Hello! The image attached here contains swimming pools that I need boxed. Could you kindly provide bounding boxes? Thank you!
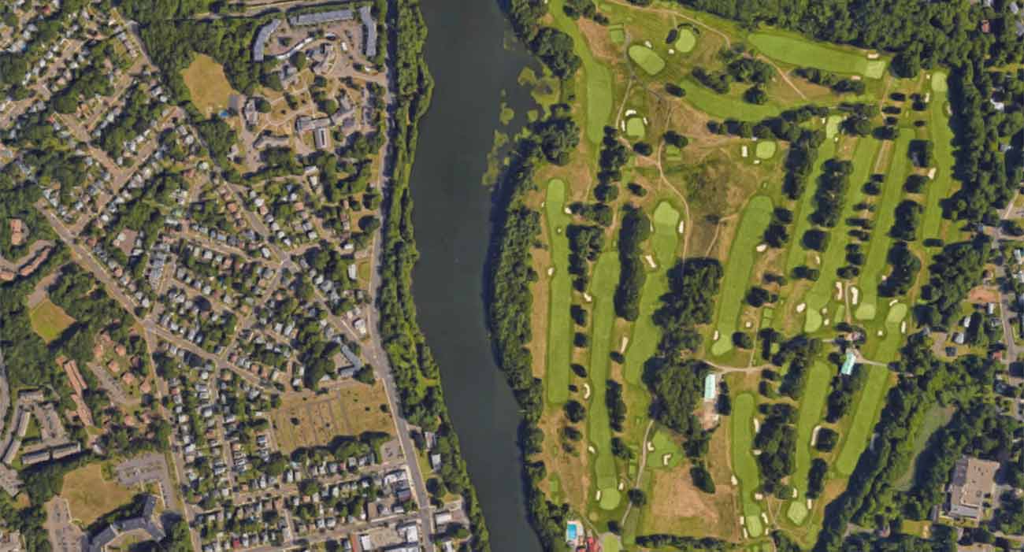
[566,521,584,551]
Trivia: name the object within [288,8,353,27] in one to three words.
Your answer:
building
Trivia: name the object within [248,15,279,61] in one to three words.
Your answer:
building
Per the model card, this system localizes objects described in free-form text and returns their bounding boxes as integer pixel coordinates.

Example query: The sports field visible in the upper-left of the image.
[181,53,232,118]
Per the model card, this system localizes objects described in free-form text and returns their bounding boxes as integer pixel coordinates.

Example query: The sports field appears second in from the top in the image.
[30,299,76,344]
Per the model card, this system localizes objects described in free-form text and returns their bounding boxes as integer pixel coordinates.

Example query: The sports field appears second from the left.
[60,465,141,526]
